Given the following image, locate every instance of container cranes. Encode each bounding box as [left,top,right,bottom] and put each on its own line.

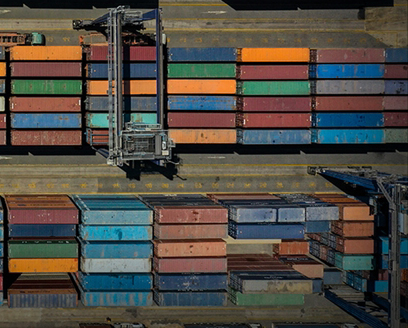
[303,165,408,328]
[71,6,177,171]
